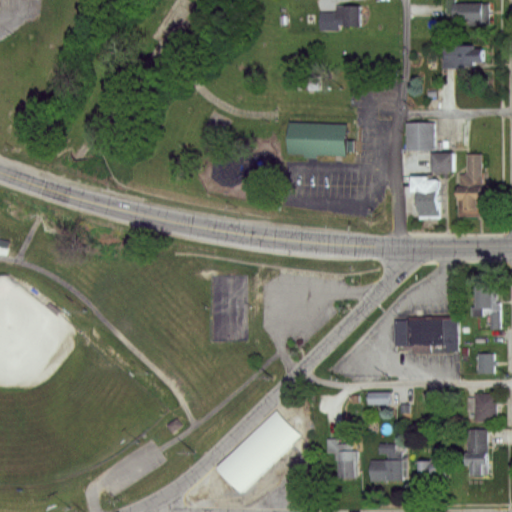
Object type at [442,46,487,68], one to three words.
house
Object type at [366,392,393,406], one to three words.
house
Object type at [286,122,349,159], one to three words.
building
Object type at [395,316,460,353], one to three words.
building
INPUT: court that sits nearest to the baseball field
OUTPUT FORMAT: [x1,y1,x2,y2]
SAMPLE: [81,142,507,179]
[212,276,248,341]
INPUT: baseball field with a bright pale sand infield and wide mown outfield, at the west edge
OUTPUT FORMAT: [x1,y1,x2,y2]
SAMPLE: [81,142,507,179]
[0,276,160,482]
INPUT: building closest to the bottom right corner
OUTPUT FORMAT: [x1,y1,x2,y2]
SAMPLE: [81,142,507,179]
[462,430,494,478]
